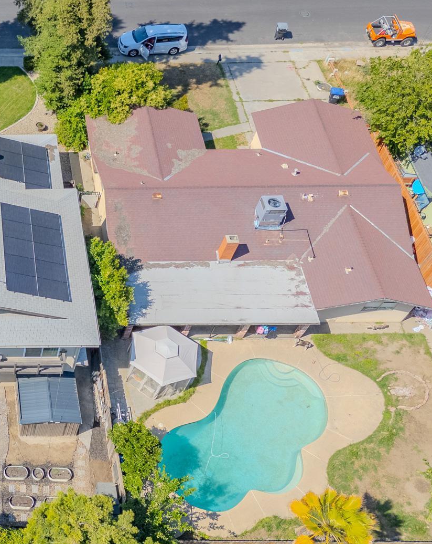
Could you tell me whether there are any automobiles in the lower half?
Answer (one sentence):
No, no automobile appears in the lower half.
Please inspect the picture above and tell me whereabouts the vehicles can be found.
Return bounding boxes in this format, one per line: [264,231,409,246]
[116,20,189,61]
[364,17,416,47]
